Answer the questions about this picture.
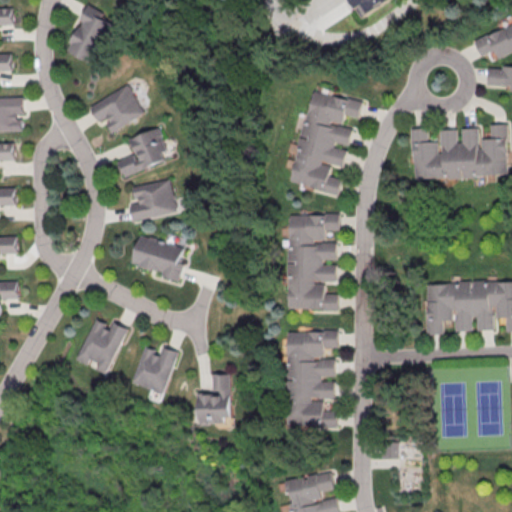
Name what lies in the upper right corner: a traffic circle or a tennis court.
traffic circle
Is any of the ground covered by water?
No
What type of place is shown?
residential area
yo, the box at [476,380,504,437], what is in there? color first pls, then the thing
blue tennis court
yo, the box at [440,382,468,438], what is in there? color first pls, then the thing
blue tennis court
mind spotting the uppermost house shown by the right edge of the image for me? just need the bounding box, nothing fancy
[474,20,512,60]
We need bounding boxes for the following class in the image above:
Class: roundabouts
[409,47,476,114]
